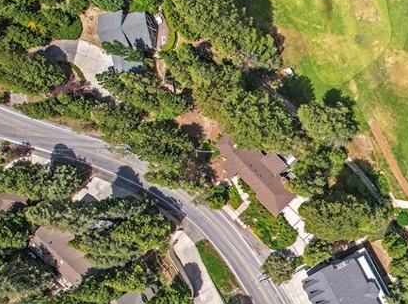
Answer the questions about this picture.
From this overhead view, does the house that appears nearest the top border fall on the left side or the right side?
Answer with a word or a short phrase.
left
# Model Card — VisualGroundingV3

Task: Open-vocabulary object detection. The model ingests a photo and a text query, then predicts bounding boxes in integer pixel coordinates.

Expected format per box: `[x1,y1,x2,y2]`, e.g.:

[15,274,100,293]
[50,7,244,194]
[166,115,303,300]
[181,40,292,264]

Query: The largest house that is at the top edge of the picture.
[97,9,164,52]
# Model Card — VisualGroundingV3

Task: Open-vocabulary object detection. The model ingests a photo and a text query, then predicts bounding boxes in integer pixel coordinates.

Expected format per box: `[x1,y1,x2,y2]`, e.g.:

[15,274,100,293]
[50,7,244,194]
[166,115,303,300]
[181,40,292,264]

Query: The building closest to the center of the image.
[216,136,298,216]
